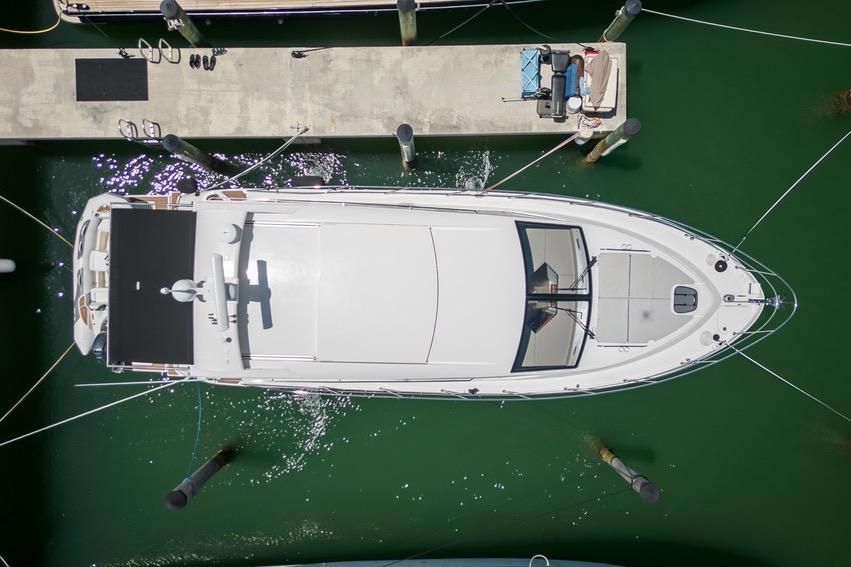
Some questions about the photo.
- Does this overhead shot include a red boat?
No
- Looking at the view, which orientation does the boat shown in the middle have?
from side to side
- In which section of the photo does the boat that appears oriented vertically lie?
left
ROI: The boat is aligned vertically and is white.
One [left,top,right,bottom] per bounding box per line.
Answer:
[71,191,134,357]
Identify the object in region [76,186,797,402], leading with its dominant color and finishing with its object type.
white boat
